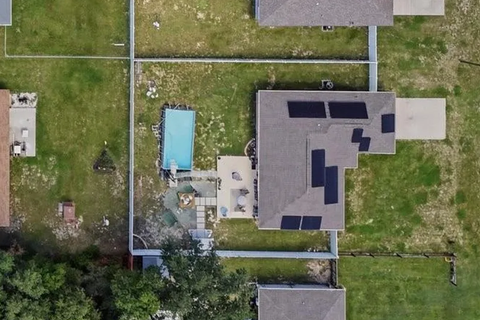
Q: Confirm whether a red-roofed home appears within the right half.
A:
No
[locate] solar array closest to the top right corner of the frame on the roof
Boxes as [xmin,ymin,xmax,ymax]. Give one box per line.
[382,113,395,133]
